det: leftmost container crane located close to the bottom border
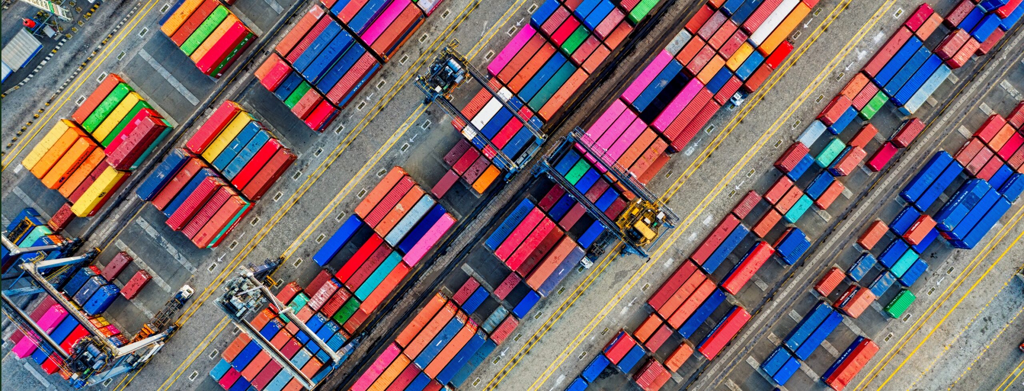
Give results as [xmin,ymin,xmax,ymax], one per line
[0,235,191,391]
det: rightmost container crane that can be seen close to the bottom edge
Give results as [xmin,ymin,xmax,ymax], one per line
[204,246,380,391]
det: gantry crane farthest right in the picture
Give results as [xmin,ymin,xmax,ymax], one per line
[530,121,681,259]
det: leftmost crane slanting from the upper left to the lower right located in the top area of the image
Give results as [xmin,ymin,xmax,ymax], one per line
[409,33,554,184]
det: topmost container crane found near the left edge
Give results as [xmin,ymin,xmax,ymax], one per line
[0,228,101,286]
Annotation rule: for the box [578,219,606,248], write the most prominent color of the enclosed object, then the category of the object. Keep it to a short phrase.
blue shipping container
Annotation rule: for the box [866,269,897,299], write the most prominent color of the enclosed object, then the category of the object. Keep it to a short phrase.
blue shipping container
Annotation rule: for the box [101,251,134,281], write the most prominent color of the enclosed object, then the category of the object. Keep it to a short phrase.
red shipping container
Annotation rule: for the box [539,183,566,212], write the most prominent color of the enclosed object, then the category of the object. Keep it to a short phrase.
red shipping container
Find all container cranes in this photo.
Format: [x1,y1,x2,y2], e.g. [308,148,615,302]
[530,121,681,259]
[0,228,101,286]
[204,246,380,391]
[409,33,554,184]
[0,235,191,391]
